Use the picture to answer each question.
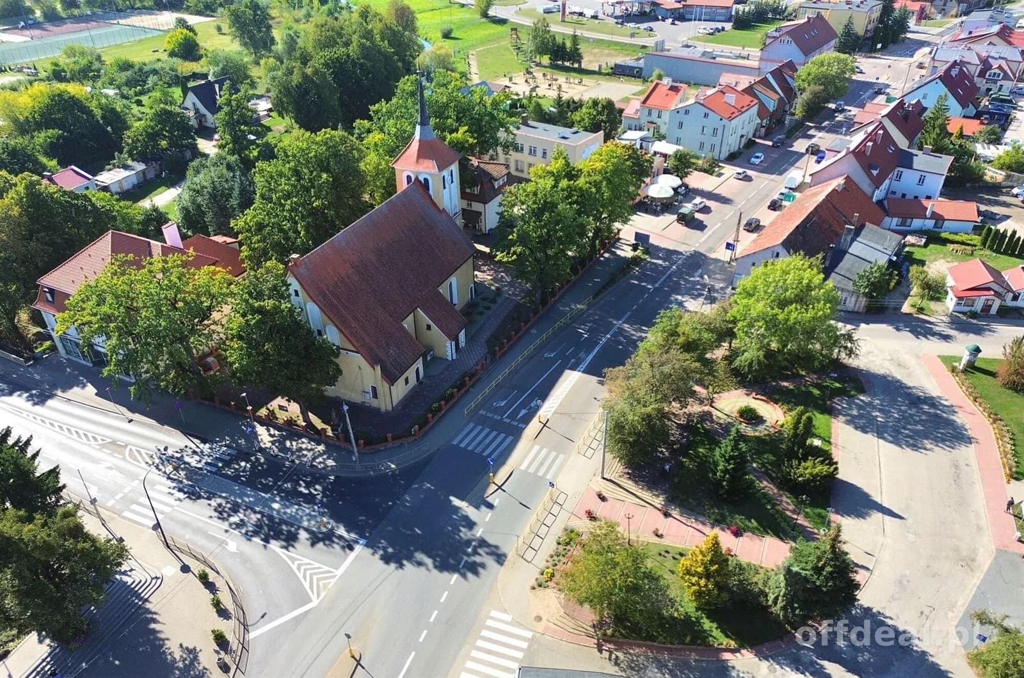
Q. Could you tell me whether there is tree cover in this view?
Yes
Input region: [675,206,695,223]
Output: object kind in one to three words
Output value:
car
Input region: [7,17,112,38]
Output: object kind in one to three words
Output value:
sports court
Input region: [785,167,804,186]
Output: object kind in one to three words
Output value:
vehicle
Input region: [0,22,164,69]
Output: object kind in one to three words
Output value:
sports court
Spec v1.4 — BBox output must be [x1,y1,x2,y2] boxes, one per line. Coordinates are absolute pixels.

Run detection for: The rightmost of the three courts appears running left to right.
[98,9,212,29]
